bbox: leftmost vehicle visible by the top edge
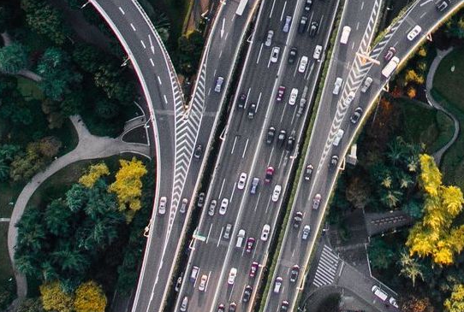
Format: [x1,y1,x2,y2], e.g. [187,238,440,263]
[234,0,250,18]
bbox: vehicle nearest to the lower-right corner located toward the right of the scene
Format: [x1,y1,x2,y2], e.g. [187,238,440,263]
[387,294,401,311]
